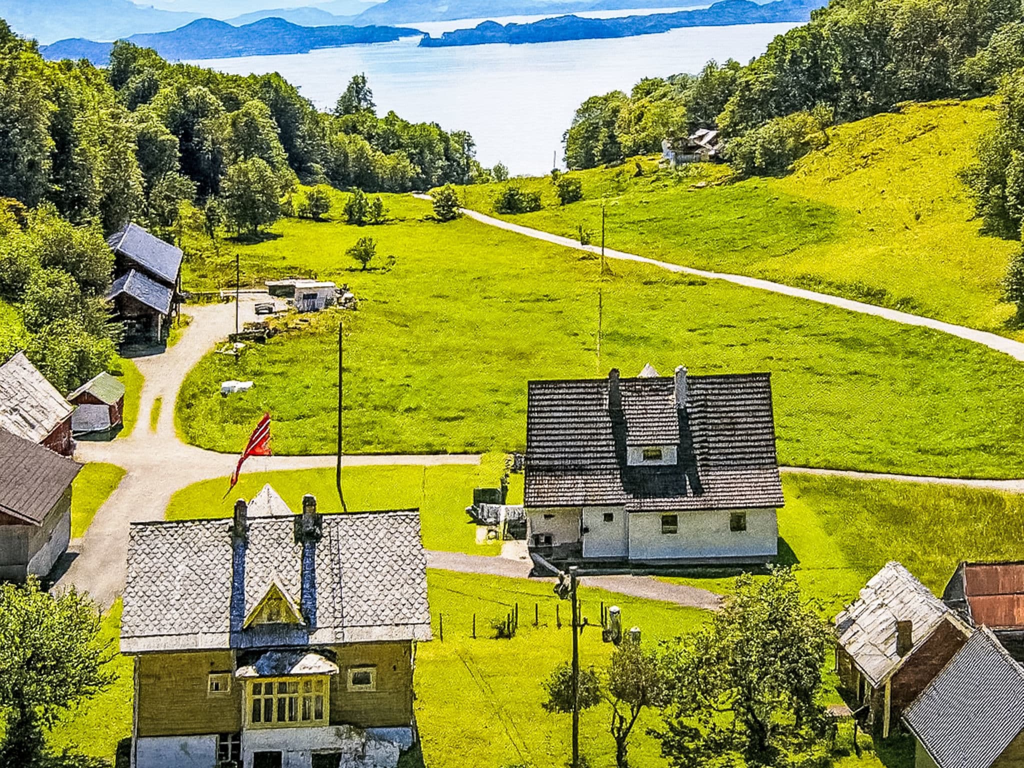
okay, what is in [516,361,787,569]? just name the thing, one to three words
house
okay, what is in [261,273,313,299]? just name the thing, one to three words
building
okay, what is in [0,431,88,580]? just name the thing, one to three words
building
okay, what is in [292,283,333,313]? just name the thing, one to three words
shed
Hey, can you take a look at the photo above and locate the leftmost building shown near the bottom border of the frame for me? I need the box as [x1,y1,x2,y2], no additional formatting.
[115,474,429,768]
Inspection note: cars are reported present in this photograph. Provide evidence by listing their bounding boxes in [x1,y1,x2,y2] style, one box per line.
[253,295,276,318]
